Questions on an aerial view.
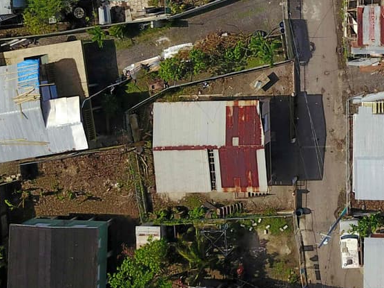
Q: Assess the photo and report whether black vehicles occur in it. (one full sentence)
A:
No, I find no black vehicle anywhere in the image.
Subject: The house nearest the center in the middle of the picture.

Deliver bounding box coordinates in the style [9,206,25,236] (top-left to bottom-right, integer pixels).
[154,86,275,192]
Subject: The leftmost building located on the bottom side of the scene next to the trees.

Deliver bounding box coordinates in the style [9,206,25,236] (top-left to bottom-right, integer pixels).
[7,212,112,288]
